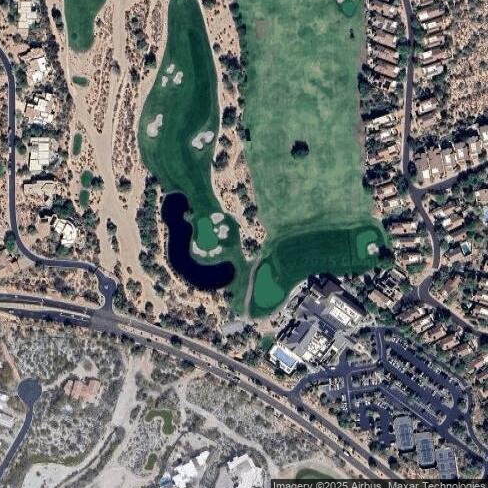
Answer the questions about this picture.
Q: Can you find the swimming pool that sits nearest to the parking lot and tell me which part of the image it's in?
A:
bottom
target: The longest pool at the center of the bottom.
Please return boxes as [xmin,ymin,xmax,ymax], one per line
[274,346,297,366]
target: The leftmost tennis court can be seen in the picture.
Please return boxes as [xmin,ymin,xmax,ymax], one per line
[394,417,415,451]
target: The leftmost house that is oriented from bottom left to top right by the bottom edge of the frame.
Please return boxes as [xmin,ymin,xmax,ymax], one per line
[171,448,211,488]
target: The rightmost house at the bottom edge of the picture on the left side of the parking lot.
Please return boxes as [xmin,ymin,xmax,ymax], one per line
[229,452,264,488]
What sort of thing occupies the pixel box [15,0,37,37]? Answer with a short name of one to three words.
house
